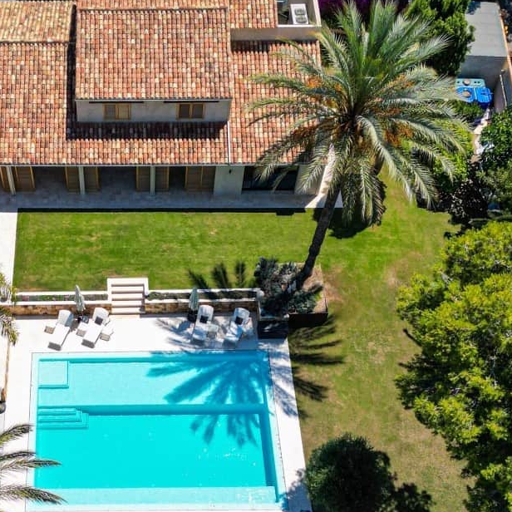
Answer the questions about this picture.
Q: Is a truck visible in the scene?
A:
No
